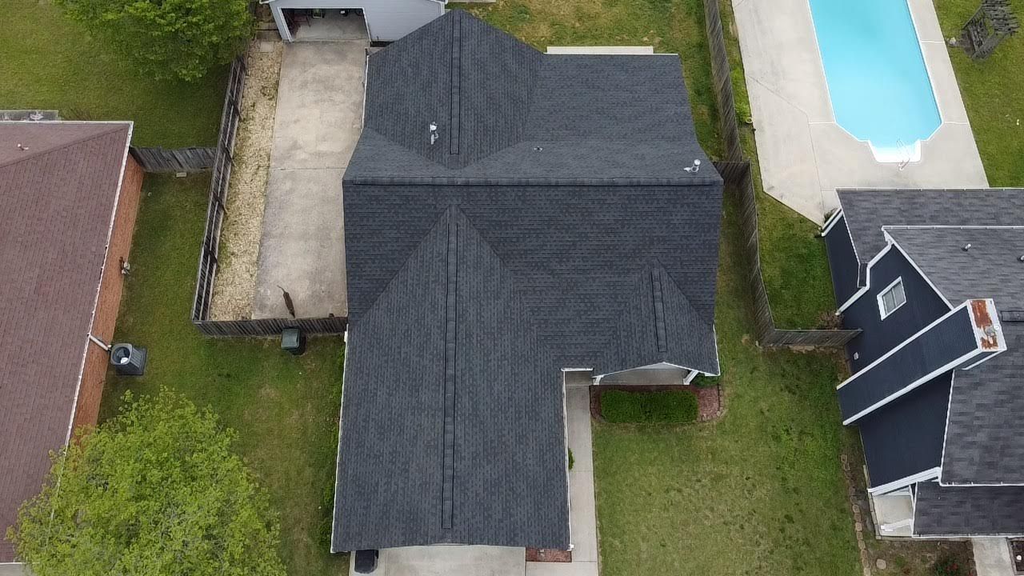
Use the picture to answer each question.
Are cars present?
No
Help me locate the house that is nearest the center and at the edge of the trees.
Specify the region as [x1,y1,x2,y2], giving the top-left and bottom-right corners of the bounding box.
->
[331,11,722,554]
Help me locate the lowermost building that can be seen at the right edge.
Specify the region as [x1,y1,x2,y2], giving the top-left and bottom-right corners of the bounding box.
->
[822,186,1024,539]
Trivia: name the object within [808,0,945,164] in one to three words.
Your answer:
swimming pool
